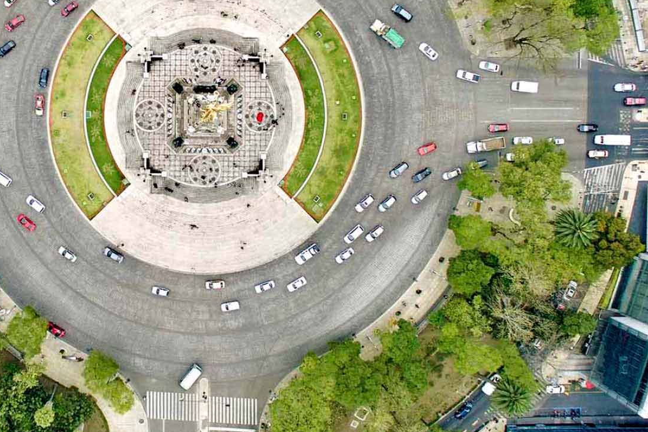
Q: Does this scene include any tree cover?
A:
Yes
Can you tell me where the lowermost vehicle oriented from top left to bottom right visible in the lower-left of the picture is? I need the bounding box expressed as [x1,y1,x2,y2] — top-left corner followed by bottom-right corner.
[46,321,67,337]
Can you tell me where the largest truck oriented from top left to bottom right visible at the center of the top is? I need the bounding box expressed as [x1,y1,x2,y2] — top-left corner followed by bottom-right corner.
[370,21,405,48]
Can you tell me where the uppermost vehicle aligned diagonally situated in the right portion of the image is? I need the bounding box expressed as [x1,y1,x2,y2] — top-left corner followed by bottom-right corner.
[391,3,413,22]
